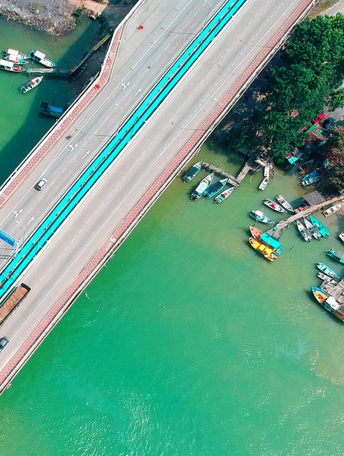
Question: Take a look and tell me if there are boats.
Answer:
Yes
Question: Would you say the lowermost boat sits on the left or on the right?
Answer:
right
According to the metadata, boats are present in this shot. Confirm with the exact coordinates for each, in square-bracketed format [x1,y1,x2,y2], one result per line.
[214,186,236,205]
[262,199,288,213]
[247,210,276,224]
[2,48,31,59]
[39,103,67,119]
[314,262,341,279]
[248,237,279,264]
[18,75,44,94]
[296,219,310,243]
[0,60,26,71]
[309,214,329,238]
[257,176,270,192]
[303,217,320,242]
[276,194,296,213]
[310,283,344,323]
[316,273,336,283]
[191,171,216,202]
[325,250,344,264]
[3,54,30,64]
[205,178,229,200]
[30,51,57,66]
[249,224,285,257]
[183,160,203,184]
[300,169,322,182]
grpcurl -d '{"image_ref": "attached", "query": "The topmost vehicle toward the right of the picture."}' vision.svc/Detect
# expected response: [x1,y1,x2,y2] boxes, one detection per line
[325,116,337,129]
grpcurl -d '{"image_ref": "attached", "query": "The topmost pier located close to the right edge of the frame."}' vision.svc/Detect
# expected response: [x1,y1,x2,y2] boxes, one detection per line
[270,195,344,235]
